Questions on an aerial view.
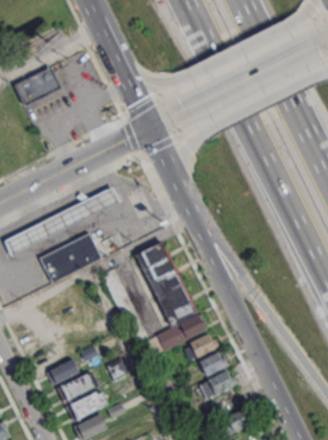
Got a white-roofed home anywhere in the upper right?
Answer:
No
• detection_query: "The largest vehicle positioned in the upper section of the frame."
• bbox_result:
[96,44,116,74]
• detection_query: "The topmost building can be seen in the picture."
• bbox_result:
[14,68,60,104]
